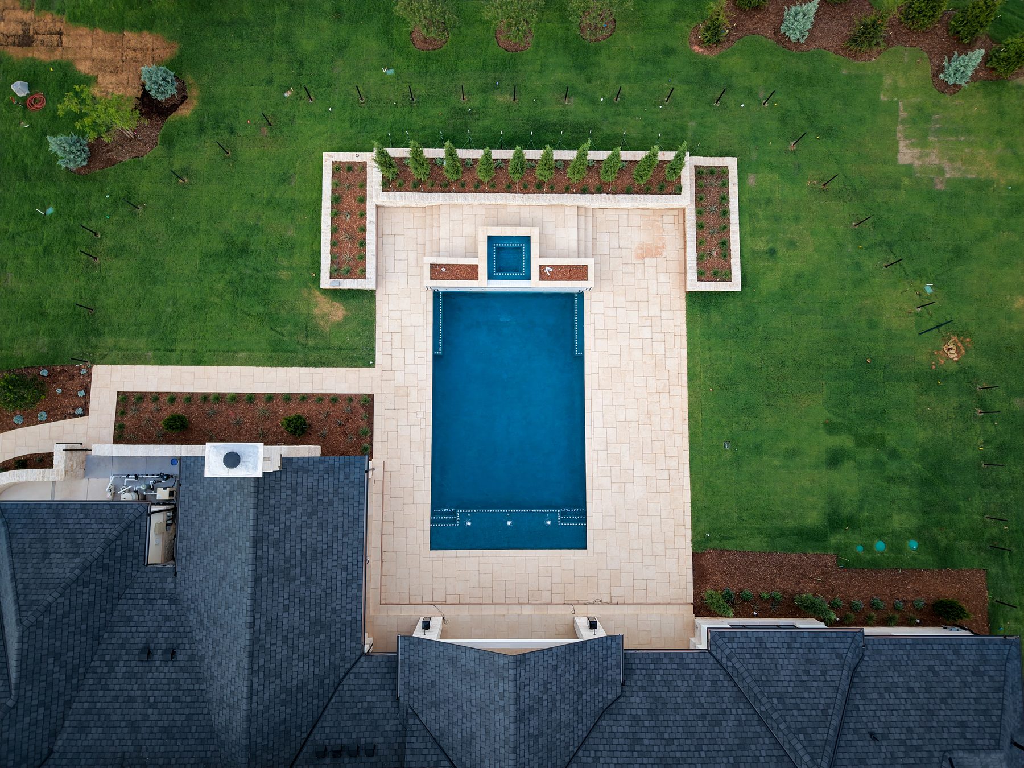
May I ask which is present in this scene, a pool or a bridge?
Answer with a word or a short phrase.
pool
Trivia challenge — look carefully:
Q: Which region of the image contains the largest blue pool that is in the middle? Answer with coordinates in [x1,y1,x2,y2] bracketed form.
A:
[431,294,586,550]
